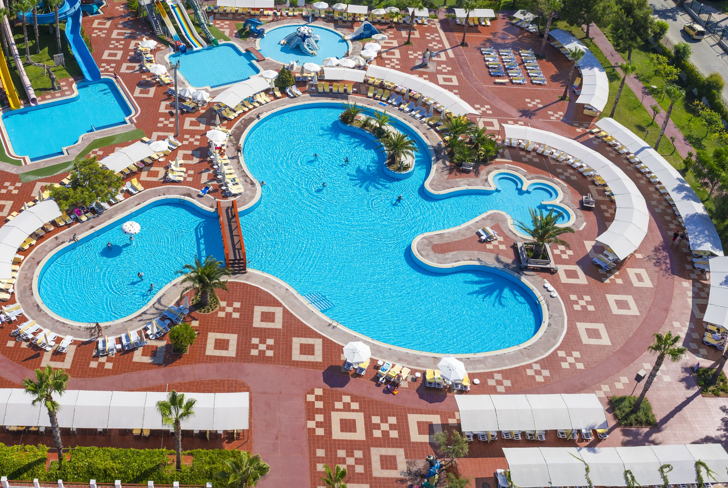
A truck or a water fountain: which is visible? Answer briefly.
water fountain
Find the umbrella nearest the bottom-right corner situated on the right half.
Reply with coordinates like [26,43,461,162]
[436,358,467,390]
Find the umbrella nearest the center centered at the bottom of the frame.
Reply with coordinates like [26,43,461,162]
[342,343,372,372]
